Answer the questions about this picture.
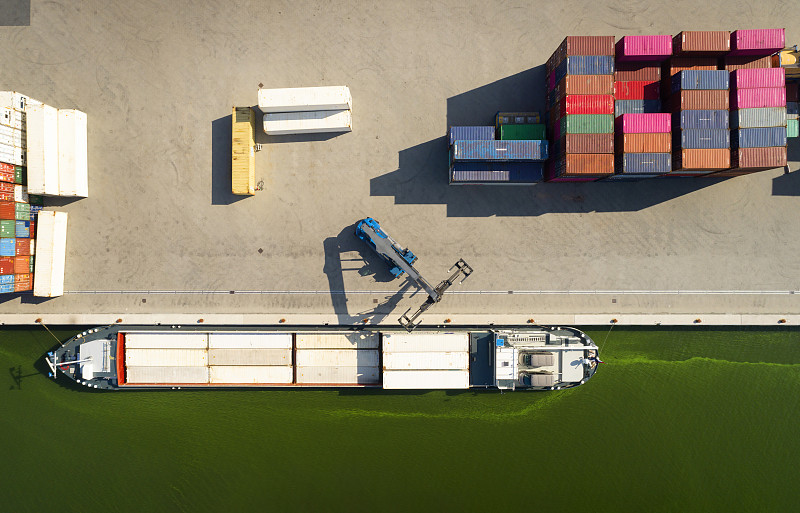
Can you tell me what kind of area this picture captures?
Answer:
port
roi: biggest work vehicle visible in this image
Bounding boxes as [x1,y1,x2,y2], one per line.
[354,216,475,334]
